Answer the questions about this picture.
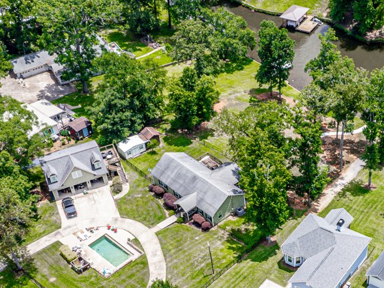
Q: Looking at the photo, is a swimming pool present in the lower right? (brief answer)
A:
No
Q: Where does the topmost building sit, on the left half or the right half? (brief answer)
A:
right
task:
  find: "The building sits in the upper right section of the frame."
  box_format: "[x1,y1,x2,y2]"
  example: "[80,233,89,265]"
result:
[277,3,314,37]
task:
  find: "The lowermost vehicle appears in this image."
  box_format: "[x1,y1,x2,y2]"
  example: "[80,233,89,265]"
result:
[61,197,78,220]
